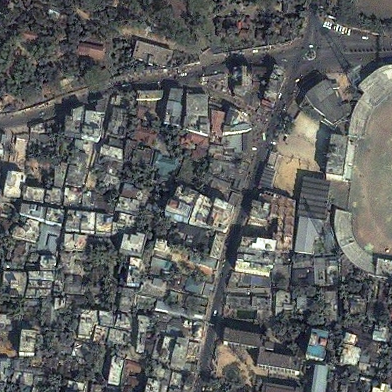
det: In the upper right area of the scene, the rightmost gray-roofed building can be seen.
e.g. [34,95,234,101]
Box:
[306,78,351,126]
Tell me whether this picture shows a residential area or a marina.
residential area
